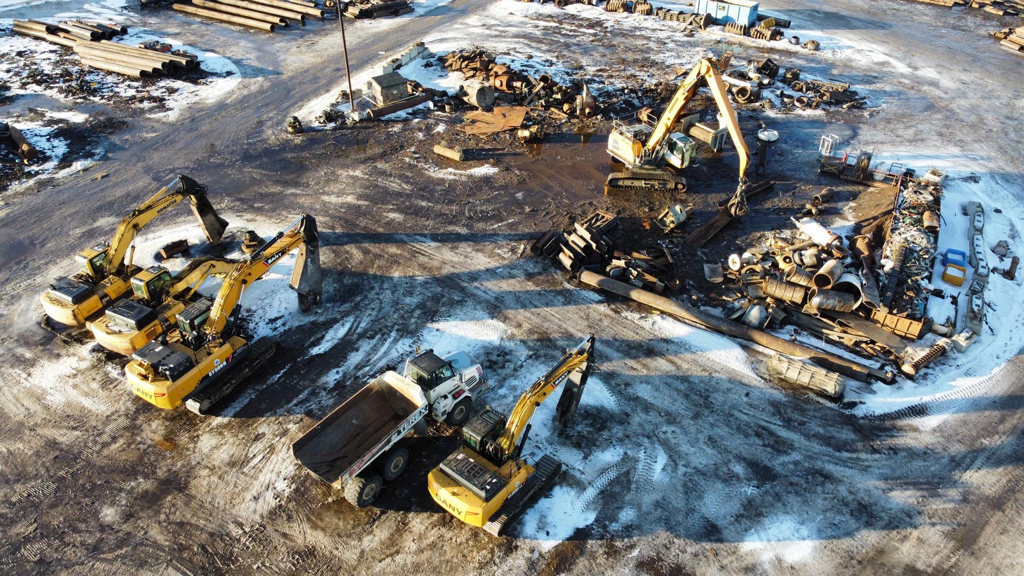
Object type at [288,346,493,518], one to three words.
truck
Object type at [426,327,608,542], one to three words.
work vehicle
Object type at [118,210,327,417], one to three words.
work vehicle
